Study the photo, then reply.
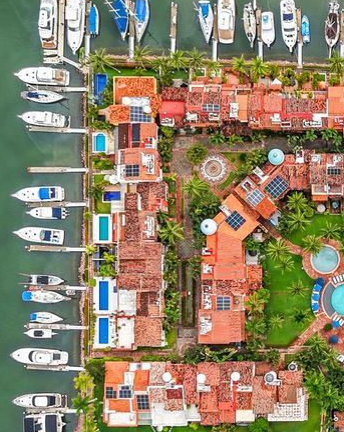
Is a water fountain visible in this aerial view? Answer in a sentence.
Yes, the picture does show a water fountain.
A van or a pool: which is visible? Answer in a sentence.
The one in the frame is a pool.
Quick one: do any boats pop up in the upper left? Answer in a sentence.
Yes, in the upper left there is a boat.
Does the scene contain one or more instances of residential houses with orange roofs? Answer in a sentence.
Yes, the picture does show a residential house with an orange roof.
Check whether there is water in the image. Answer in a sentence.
Yes, there is water in the image.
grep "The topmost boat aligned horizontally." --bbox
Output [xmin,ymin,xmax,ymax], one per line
[13,62,71,86]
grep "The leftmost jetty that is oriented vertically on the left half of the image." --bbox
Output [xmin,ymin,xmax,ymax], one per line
[59,0,85,71]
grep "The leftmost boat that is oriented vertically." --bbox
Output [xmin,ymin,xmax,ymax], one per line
[36,0,60,51]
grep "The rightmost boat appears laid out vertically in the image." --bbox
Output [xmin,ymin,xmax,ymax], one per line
[324,2,339,57]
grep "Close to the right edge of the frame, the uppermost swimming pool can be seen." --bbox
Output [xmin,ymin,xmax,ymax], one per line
[310,245,340,275]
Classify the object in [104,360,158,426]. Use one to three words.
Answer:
house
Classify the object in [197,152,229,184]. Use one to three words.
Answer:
fountain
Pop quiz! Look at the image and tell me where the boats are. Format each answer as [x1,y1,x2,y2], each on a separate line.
[23,415,70,432]
[12,225,67,245]
[260,10,275,47]
[240,5,256,47]
[16,111,72,129]
[88,4,100,39]
[192,2,212,43]
[102,0,129,41]
[27,312,63,324]
[28,275,64,287]
[13,62,71,86]
[324,2,339,57]
[36,0,60,51]
[25,207,67,221]
[61,0,87,52]
[10,185,67,203]
[21,83,63,103]
[21,290,71,302]
[9,393,66,409]
[280,0,299,51]
[25,328,56,339]
[7,347,73,366]
[300,16,310,46]
[122,0,149,43]
[215,0,236,48]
